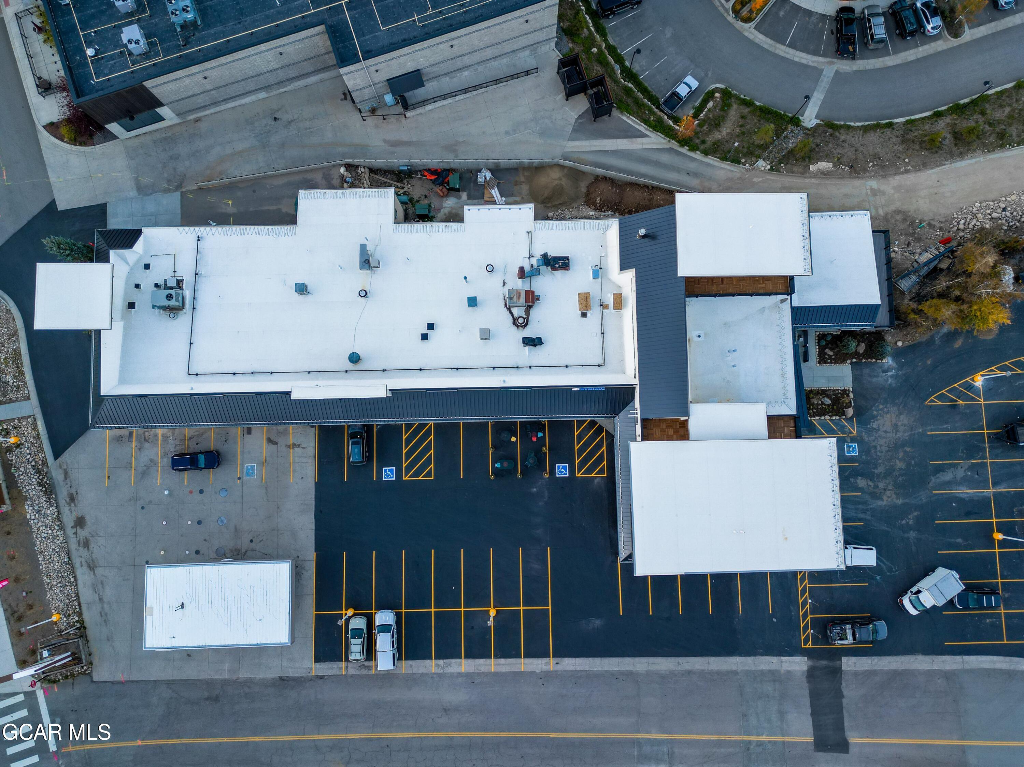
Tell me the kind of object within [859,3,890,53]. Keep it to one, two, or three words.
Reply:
car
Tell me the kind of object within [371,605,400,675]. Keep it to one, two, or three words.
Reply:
vehicle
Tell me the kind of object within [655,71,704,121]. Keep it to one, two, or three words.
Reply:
truck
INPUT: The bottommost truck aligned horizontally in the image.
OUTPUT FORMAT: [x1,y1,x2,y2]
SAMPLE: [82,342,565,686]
[822,617,890,647]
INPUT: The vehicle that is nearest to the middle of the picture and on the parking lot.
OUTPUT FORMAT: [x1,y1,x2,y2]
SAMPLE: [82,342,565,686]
[345,425,371,468]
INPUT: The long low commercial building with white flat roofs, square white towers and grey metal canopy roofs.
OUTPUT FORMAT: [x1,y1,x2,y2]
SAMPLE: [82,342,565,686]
[33,187,897,576]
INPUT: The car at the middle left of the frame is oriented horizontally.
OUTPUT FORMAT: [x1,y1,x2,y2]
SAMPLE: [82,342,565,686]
[169,447,225,473]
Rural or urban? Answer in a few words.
urban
